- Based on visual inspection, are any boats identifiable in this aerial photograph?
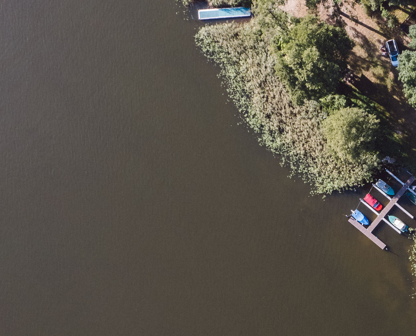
Yes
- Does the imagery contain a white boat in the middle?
No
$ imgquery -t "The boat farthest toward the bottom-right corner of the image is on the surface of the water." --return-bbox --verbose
[388,213,410,235]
